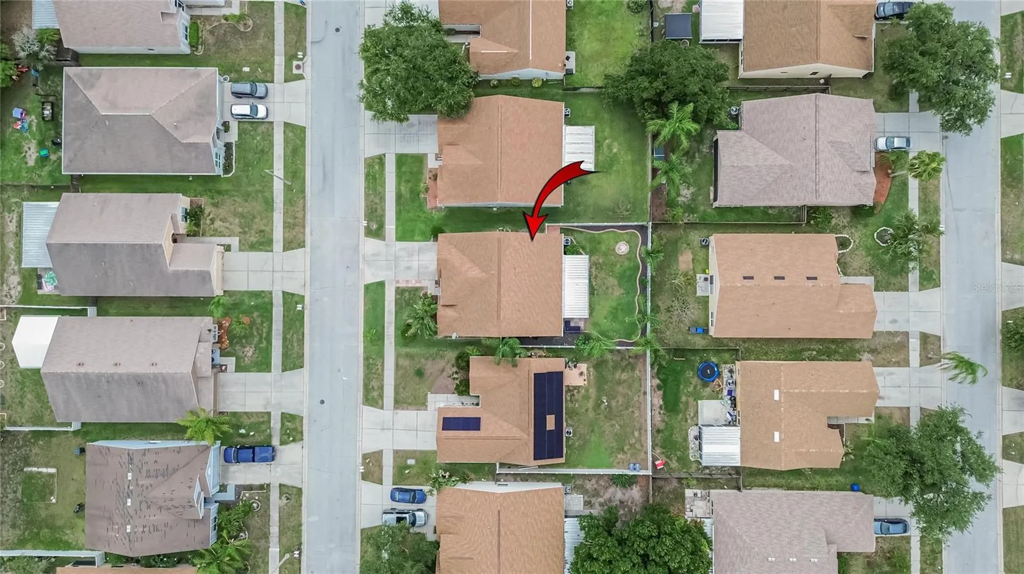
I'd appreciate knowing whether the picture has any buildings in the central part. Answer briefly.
Yes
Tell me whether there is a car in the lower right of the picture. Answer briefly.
Yes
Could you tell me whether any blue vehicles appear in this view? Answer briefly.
Yes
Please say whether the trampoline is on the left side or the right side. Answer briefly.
right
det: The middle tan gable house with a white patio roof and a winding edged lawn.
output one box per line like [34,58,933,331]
[436,230,563,339]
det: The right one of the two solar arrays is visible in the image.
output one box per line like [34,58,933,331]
[534,372,564,460]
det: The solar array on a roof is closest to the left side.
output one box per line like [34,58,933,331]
[442,417,480,430]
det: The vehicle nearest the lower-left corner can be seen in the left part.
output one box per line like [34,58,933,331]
[226,446,276,465]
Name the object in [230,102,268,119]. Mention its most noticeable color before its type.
white car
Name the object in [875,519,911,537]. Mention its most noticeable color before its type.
blue car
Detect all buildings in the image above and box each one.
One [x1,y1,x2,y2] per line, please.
[54,0,233,52]
[63,67,228,175]
[85,441,221,559]
[55,561,207,574]
[436,230,563,339]
[436,356,566,466]
[42,192,225,296]
[709,489,875,574]
[436,95,564,207]
[739,0,876,78]
[709,94,880,208]
[40,317,221,423]
[438,0,566,80]
[733,361,881,473]
[707,233,878,339]
[435,480,564,574]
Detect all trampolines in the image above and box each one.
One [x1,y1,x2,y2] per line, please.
[697,361,719,382]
